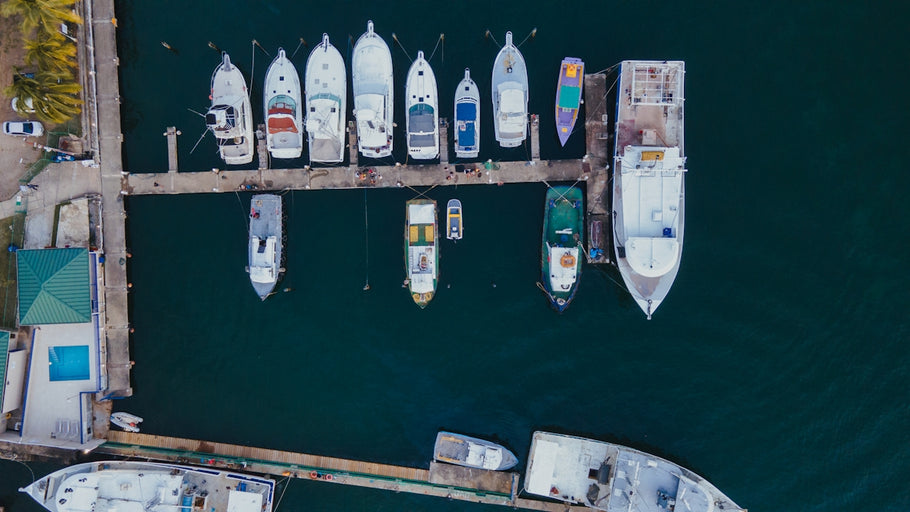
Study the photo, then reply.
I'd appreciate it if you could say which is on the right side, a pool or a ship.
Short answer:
ship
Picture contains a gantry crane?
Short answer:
No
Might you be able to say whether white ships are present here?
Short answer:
Yes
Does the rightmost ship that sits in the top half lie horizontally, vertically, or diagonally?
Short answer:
vertically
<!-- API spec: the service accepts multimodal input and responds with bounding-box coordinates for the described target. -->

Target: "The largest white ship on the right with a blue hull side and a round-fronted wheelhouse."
[612,61,688,319]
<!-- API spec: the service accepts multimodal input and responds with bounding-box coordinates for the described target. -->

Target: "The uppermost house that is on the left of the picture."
[15,247,92,325]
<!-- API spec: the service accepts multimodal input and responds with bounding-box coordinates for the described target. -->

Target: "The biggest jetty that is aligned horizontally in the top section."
[122,160,587,195]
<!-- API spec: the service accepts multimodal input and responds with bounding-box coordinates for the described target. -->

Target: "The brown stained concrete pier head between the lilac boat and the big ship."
[584,73,610,263]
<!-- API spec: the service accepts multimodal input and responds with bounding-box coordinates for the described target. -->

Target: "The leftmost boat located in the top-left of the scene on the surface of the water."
[188,52,255,165]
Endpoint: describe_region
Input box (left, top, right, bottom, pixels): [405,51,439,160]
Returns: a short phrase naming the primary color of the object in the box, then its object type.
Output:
white boat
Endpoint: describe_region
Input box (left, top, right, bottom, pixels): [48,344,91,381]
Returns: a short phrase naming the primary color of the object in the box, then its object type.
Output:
blue swimming pool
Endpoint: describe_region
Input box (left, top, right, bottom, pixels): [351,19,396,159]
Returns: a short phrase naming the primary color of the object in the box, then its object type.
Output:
white boat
